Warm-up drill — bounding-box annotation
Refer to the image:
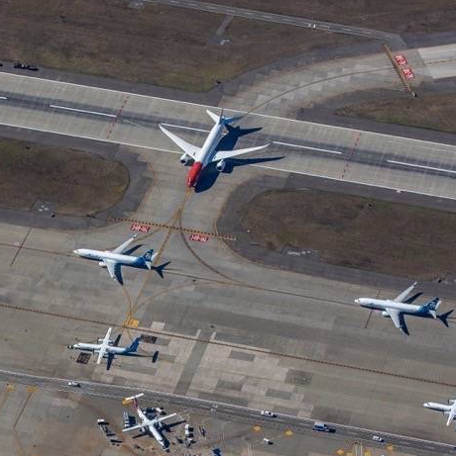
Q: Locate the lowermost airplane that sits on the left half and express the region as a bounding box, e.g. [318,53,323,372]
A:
[125,398,182,450]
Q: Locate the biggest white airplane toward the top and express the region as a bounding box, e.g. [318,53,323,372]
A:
[157,97,267,186]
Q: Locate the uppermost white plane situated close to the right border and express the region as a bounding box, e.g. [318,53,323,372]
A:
[356,283,439,328]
